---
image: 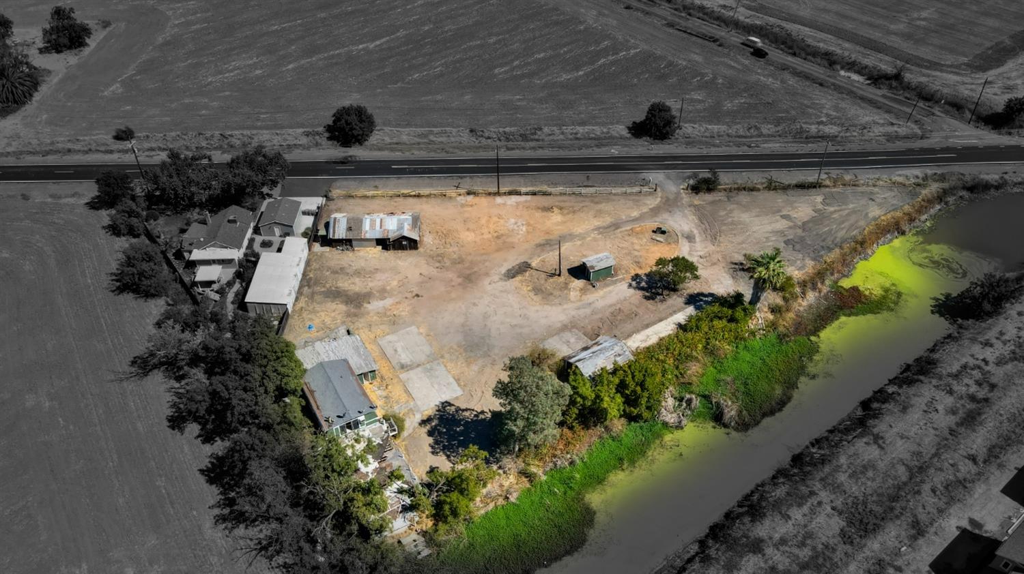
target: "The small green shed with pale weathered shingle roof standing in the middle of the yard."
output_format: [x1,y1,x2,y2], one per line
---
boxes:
[575,250,615,280]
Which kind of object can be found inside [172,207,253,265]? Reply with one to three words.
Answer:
house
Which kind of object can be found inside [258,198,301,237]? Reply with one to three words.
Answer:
building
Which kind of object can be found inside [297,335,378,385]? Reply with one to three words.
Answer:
shed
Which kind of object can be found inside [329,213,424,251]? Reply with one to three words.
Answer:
barn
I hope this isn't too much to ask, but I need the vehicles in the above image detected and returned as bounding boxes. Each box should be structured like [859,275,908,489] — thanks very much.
[745,37,762,49]
[753,49,769,58]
